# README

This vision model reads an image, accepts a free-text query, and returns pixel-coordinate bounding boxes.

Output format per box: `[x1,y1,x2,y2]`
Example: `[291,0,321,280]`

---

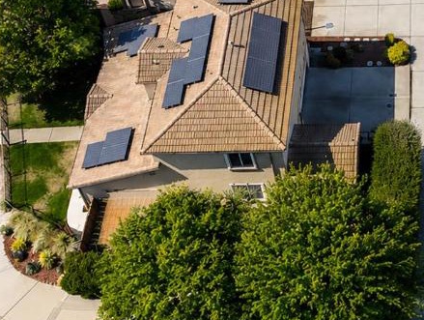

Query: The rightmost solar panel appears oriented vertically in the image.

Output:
[243,10,282,91]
